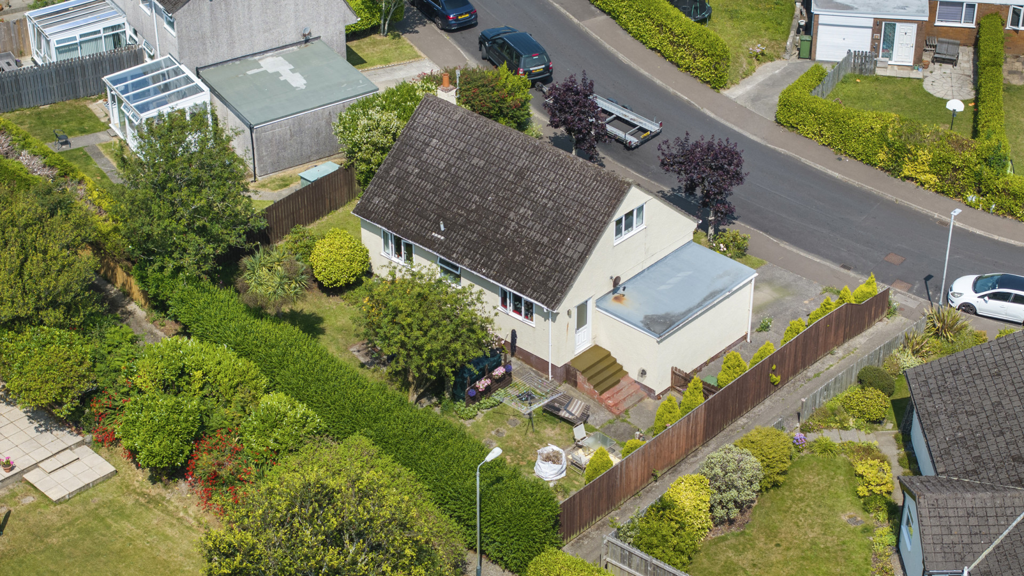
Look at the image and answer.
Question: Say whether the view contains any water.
No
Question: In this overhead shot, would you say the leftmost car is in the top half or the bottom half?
top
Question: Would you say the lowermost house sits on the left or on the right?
right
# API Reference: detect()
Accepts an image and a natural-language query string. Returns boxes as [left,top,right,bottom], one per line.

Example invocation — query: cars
[481,32,552,85]
[416,0,475,27]
[951,276,1024,328]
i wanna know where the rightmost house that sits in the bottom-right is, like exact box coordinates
[899,327,1024,576]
